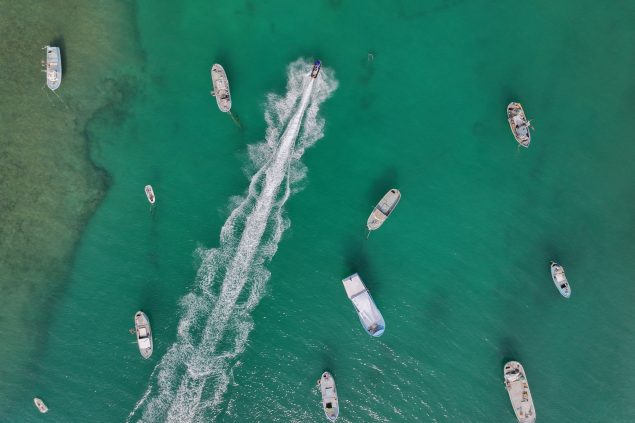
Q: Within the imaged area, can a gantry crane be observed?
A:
No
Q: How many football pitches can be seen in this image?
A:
zero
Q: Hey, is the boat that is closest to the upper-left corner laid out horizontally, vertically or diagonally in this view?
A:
vertically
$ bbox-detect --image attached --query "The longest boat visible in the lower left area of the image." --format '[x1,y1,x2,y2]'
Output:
[130,311,153,359]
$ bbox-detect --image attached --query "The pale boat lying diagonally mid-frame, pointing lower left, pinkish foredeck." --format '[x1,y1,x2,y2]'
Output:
[365,187,397,243]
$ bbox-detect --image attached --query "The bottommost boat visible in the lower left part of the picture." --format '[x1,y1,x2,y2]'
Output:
[35,398,48,413]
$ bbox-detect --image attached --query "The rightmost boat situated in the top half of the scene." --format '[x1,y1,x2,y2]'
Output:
[507,101,535,153]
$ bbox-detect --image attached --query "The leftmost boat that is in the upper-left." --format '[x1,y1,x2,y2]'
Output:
[42,46,68,110]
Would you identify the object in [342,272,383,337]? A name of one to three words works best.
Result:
boat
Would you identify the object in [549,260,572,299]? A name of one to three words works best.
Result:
boat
